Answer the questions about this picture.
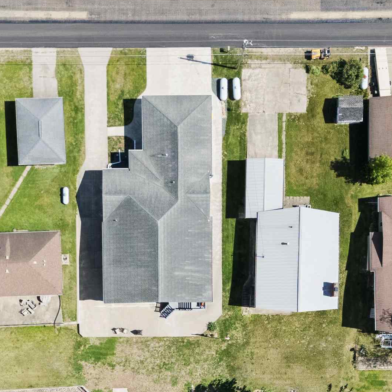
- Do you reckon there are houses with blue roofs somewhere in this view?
No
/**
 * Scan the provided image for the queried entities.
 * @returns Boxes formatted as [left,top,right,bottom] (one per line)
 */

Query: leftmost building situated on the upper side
[14,96,67,167]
